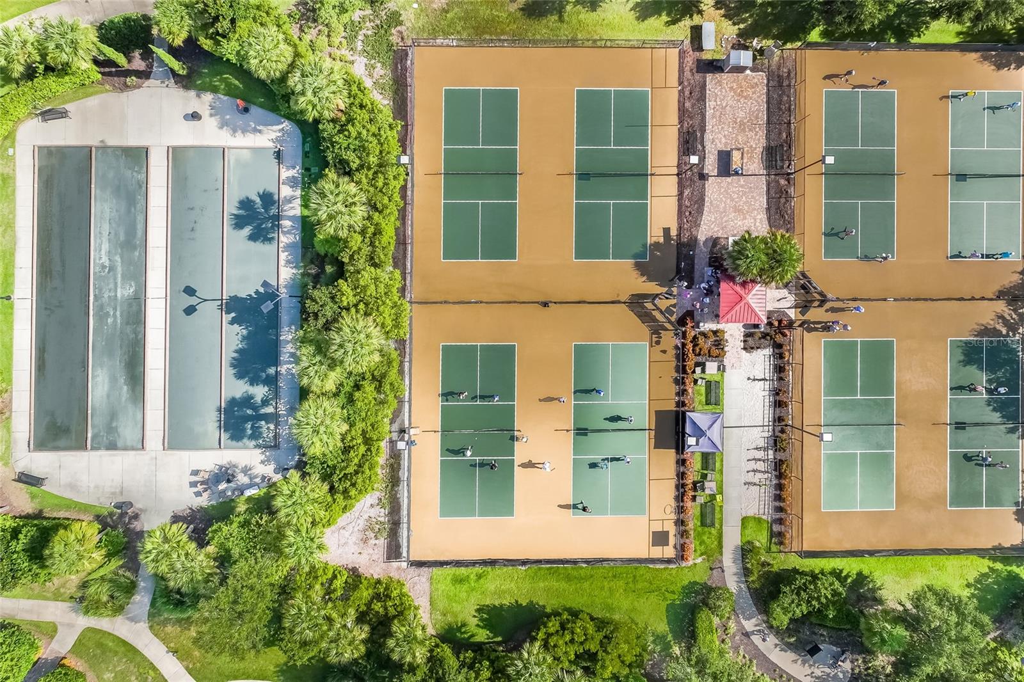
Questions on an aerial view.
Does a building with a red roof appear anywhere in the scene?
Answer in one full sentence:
Yes, a building with a red roof is visible in the scene.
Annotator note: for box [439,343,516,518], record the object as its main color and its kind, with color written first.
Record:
green sports court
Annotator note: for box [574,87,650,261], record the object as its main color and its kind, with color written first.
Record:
green sports court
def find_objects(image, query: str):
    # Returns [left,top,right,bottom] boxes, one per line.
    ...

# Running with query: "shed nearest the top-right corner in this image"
[726,50,756,76]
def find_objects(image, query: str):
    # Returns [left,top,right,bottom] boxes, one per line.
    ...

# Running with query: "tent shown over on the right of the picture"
[677,410,721,450]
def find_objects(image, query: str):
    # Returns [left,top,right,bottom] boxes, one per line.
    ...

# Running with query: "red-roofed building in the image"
[712,272,766,321]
